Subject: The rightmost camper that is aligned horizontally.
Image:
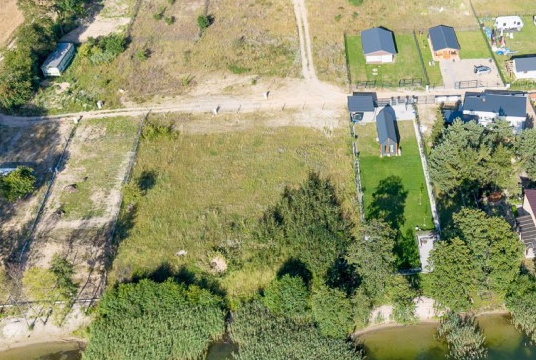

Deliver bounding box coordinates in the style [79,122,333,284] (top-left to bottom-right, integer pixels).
[490,17,524,31]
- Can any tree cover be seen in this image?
Yes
